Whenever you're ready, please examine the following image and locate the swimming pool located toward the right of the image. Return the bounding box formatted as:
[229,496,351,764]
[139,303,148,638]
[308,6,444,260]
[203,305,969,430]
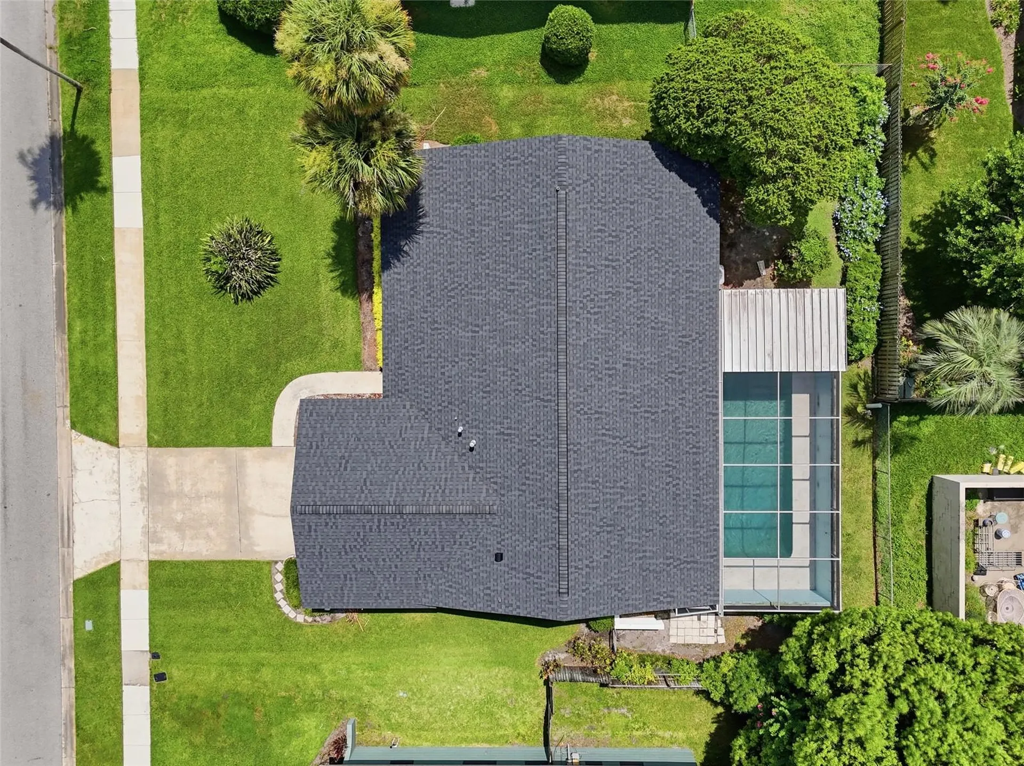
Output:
[722,361,793,558]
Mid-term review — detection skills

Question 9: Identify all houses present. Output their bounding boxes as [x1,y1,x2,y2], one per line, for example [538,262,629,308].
[291,133,721,621]
[320,720,702,766]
